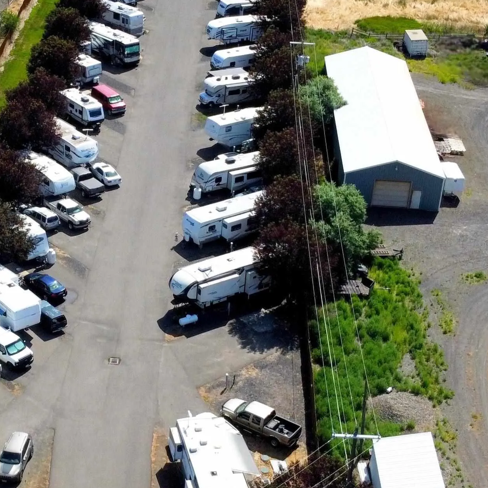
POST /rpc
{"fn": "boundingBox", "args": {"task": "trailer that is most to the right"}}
[444,163,467,206]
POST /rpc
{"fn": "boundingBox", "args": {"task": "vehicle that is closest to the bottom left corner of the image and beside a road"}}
[0,428,34,483]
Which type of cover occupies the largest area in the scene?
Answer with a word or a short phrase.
paved ground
